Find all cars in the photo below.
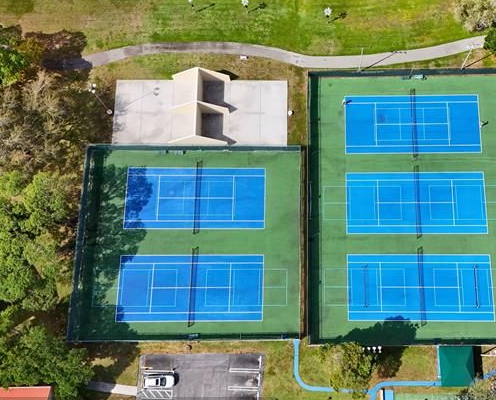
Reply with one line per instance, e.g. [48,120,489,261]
[143,374,175,389]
